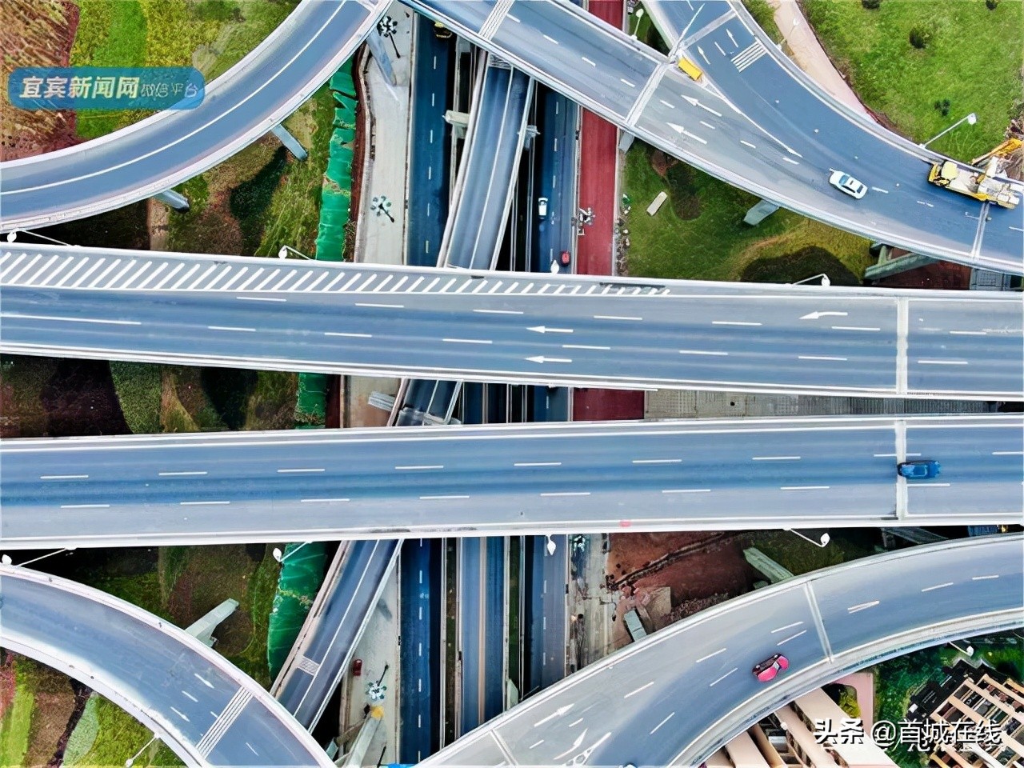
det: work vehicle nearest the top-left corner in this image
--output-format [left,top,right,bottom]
[433,22,448,47]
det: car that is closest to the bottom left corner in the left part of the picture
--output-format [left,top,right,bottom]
[350,658,362,679]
